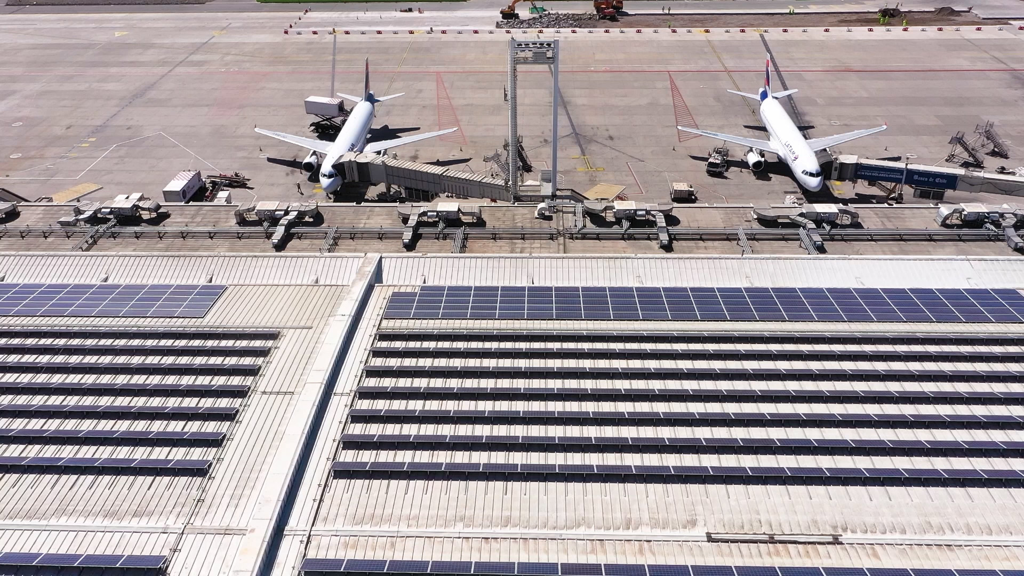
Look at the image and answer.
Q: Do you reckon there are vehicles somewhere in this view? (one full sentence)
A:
Yes, the picture does show a vehicle.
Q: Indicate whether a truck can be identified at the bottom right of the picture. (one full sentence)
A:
No, there's no truck to be seen at the bottom right of the picture.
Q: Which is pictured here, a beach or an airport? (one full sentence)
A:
The area seen from above is an airport.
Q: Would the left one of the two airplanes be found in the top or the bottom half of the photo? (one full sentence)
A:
The left one of the two airplanes is in the top half of the image.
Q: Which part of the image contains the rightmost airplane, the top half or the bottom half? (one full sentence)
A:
The top half of the photo is where the rightmost airplane is.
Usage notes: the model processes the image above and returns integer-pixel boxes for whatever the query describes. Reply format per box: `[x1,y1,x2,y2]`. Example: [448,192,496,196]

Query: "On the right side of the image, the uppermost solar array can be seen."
[383,284,1024,319]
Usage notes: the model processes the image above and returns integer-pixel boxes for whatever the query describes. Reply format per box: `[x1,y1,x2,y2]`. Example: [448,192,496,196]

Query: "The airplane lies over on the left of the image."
[254,59,458,197]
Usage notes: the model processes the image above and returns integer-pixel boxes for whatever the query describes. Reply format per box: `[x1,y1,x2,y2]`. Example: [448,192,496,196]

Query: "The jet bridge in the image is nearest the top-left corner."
[341,154,510,202]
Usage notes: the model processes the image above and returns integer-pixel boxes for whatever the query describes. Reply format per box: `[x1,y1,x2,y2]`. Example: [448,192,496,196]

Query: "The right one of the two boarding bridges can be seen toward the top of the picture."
[821,152,1024,205]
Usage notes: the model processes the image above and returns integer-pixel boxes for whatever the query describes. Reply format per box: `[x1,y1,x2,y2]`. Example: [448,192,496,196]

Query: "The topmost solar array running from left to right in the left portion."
[0,282,227,315]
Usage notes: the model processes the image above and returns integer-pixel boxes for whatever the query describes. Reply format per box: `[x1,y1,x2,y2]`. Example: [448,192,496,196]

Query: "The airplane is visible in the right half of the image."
[677,55,888,195]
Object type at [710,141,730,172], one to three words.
vehicle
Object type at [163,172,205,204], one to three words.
truck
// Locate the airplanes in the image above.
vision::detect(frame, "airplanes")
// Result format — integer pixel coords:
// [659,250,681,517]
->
[677,55,888,195]
[254,59,458,197]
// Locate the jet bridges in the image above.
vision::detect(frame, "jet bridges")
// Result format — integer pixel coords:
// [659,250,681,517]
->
[821,152,1024,205]
[341,154,510,202]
